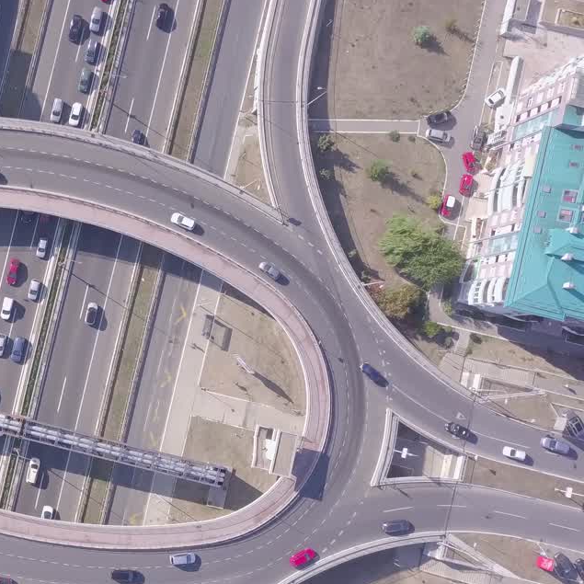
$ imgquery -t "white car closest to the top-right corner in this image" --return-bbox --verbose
[483,89,507,109]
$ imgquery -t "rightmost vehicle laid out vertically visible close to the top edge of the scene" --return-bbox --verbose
[156,5,170,30]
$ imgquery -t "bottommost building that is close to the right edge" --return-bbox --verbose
[454,55,584,335]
